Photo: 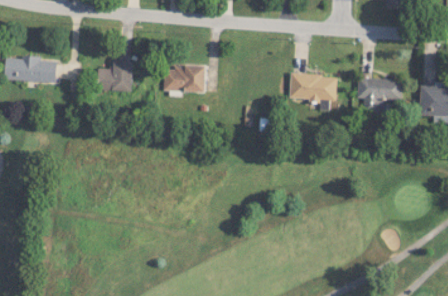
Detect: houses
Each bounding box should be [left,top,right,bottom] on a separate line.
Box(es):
[421,82,448,123]
[98,60,138,92]
[5,56,60,88]
[358,70,404,106]
[164,63,208,97]
[290,66,338,112]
